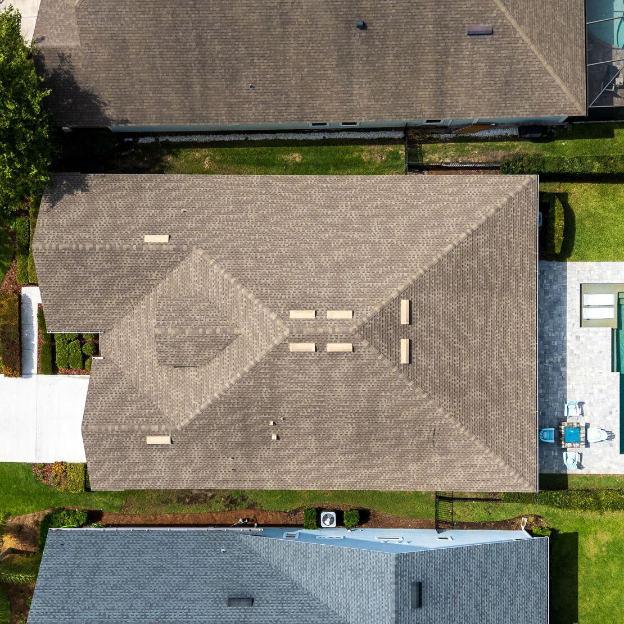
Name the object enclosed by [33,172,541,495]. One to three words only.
house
